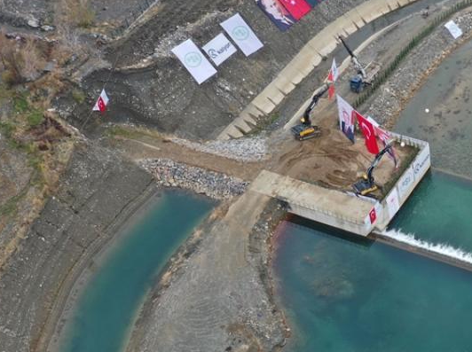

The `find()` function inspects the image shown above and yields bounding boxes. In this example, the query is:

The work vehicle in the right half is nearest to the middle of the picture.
[297,84,339,141]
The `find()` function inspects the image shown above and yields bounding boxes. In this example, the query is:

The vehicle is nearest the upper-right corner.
[339,37,387,87]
